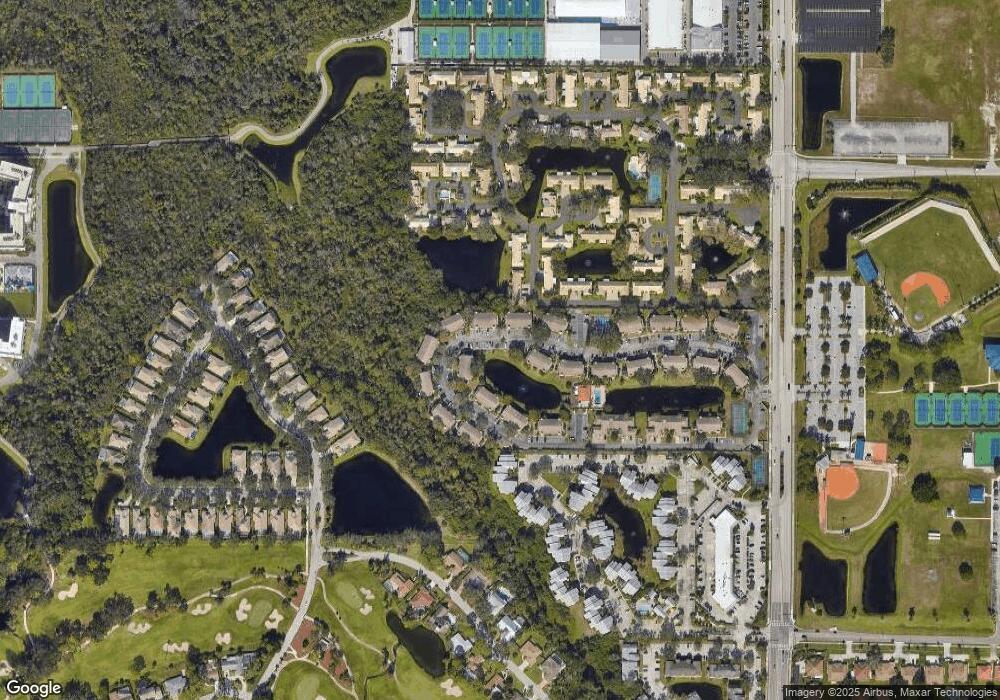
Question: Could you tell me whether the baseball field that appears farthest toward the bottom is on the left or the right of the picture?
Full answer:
The baseball field that appears farthest toward the bottom appears in the right half of the scene.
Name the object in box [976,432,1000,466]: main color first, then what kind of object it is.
green tennis court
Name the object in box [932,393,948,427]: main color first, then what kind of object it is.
green tennis court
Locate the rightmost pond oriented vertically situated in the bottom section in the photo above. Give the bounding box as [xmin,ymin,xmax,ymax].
[861,525,897,614]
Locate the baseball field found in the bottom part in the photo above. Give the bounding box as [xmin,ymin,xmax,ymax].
[826,466,892,534]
